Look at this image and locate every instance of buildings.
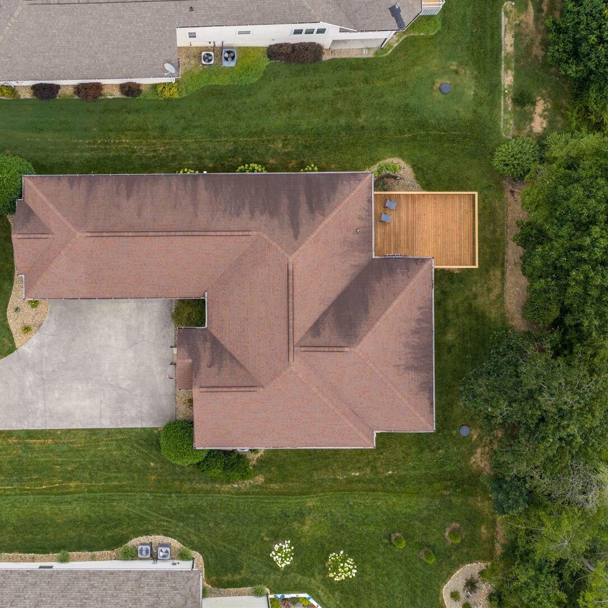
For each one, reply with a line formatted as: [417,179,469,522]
[0,0,424,90]
[0,544,272,608]
[11,170,437,451]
